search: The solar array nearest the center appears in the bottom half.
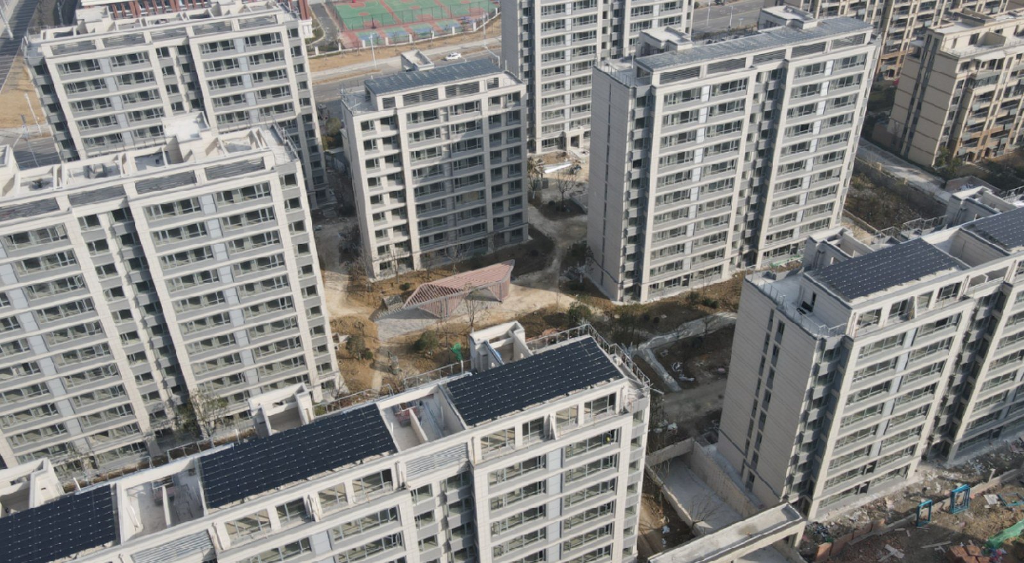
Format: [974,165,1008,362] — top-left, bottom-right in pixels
[445,339,619,424]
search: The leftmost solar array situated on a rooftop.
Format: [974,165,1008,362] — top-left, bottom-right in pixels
[0,482,115,563]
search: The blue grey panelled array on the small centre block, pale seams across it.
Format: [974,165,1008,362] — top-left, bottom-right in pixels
[364,59,502,95]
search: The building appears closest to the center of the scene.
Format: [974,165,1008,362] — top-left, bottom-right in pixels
[401,255,514,318]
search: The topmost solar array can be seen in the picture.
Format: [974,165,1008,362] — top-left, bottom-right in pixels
[627,17,876,72]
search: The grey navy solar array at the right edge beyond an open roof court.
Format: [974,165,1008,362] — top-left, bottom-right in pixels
[972,209,1024,249]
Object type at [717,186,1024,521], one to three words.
building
